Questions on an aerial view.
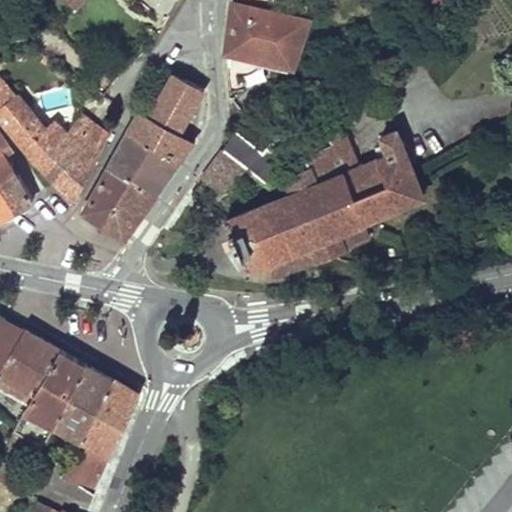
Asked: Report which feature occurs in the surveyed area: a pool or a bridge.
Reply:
pool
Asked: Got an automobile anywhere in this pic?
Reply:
Yes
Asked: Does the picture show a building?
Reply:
Yes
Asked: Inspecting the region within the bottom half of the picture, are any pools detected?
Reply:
No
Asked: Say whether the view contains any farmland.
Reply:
No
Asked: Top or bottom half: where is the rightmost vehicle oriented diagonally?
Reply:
top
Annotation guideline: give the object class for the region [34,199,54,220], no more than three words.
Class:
car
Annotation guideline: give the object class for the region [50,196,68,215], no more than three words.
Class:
car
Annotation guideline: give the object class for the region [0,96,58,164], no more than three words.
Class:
house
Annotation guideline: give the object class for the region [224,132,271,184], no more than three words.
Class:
building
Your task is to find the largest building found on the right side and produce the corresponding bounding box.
[229,173,427,278]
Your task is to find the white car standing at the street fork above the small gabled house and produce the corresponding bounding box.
[165,42,183,64]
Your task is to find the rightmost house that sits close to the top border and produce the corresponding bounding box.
[222,2,312,74]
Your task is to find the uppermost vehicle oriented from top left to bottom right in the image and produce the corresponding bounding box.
[424,129,446,156]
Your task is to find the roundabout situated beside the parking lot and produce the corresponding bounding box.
[112,250,252,422]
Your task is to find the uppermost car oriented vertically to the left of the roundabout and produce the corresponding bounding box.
[62,246,74,268]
